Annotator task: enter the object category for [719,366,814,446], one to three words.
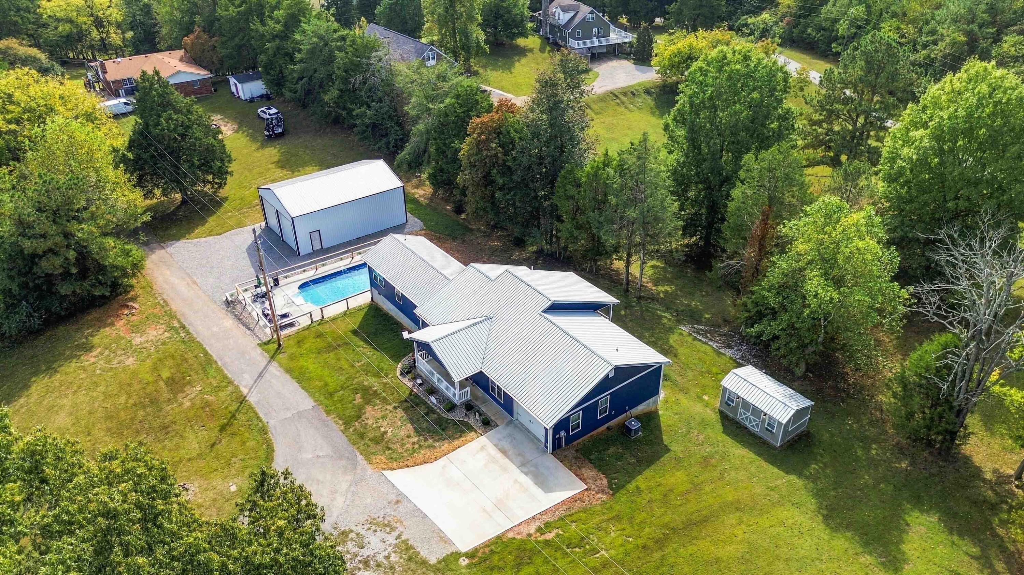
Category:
shed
